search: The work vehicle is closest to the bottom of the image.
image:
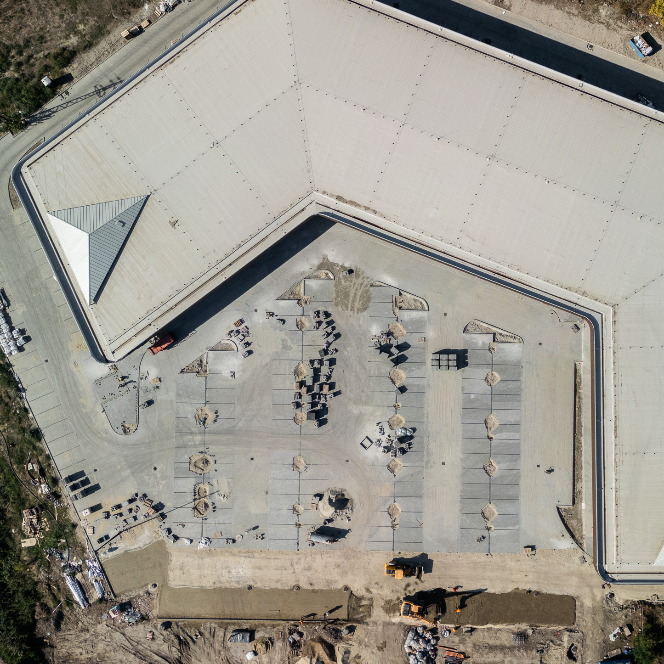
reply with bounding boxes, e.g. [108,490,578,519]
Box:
[397,599,440,630]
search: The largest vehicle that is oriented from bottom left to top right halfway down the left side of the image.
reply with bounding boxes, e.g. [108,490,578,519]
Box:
[148,329,177,352]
